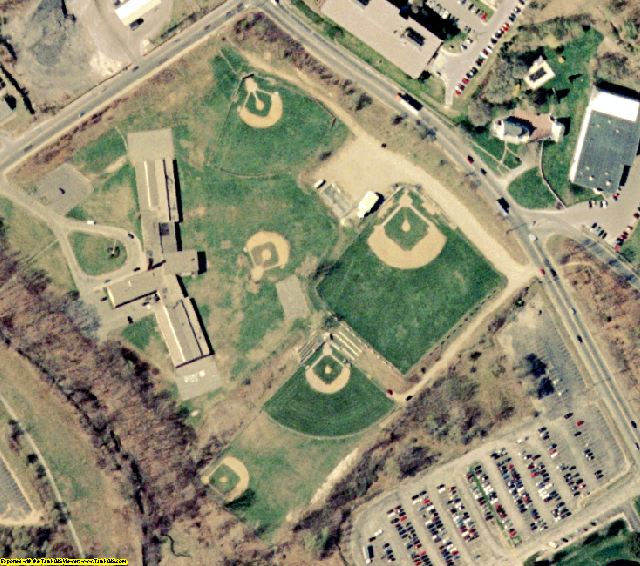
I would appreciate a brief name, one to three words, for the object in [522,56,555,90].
house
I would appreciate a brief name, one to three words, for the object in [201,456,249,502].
baseball field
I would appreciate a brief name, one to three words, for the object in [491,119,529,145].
house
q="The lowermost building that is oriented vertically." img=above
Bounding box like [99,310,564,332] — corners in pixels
[108,159,214,367]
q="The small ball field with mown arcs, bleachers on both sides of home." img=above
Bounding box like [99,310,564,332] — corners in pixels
[263,338,394,437]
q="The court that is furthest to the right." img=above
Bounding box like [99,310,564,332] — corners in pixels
[276,277,311,320]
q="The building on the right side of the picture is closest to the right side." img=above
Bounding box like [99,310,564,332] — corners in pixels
[569,92,640,197]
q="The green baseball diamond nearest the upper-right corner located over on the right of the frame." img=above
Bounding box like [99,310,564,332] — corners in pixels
[319,187,508,375]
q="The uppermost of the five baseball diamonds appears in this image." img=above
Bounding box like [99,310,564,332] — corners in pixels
[238,77,282,128]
